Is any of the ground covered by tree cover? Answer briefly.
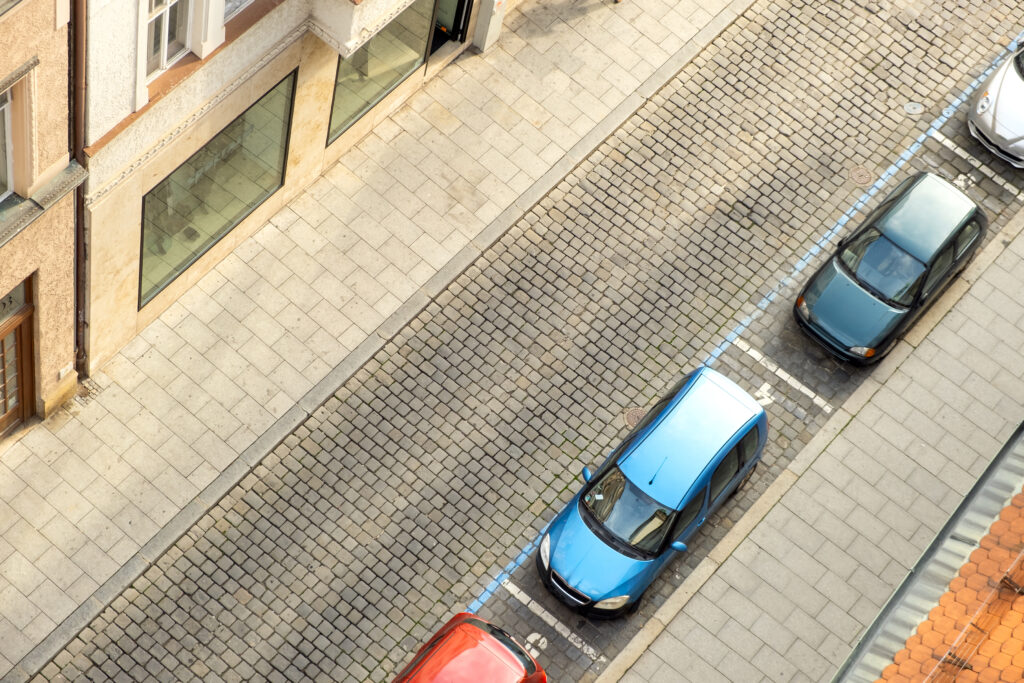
No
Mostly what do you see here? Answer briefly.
paved ground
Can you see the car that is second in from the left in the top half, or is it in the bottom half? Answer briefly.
bottom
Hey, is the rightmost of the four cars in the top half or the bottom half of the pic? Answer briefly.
top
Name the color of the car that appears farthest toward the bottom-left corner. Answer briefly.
red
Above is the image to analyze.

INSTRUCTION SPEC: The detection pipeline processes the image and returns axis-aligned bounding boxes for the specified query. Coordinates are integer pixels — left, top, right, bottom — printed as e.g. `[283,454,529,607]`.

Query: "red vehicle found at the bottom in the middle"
[394,611,556,683]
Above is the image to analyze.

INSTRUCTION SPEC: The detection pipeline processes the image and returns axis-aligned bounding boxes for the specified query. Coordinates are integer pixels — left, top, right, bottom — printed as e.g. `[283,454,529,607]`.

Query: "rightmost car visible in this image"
[959,32,1024,174]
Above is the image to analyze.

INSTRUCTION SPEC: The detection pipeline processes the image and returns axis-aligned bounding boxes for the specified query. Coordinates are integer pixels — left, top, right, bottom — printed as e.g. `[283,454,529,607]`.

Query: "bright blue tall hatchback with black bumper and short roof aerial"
[535,367,778,620]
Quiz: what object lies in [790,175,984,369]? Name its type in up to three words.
car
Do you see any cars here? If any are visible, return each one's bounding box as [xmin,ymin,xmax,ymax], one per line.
[790,175,984,369]
[394,611,556,683]
[535,367,778,620]
[959,32,1024,174]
